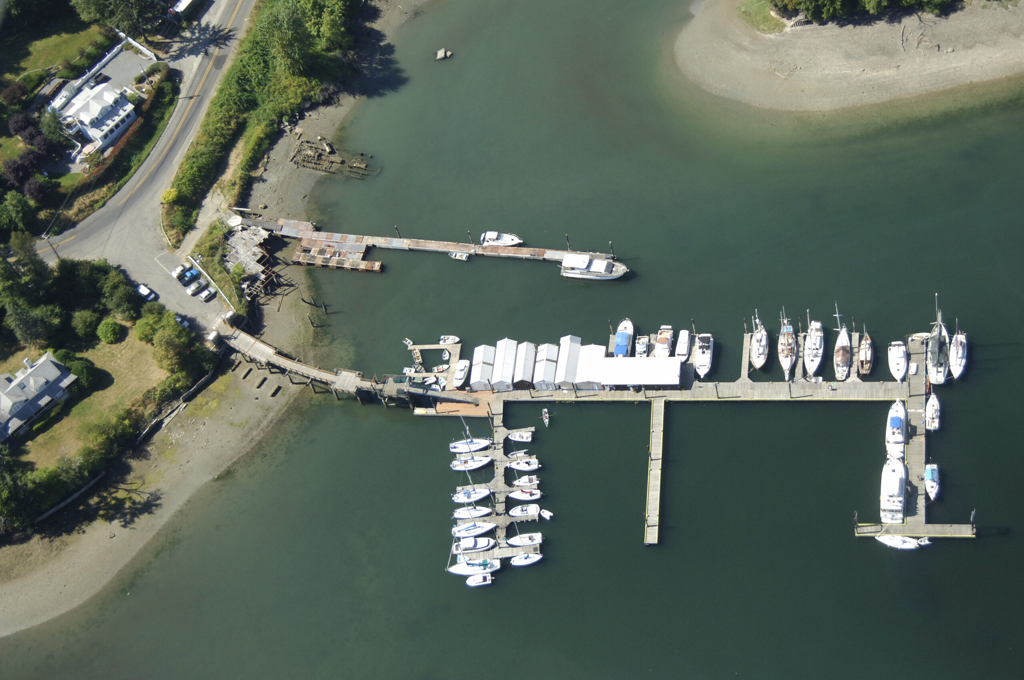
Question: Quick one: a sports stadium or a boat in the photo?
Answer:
boat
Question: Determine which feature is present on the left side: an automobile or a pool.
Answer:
automobile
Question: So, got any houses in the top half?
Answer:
Yes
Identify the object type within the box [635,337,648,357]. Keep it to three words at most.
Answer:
boat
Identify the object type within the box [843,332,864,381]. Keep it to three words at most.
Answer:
pier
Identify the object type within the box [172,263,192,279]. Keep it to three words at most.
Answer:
car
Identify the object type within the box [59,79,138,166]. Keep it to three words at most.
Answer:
house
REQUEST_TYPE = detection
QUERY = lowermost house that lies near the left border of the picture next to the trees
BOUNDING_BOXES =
[0,350,80,448]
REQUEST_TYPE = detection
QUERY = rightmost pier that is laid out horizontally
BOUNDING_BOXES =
[855,524,975,538]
